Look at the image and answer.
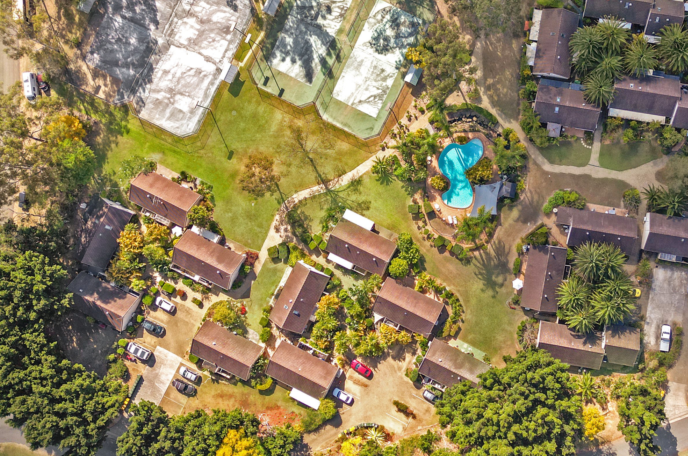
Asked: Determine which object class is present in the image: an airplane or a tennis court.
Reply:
tennis court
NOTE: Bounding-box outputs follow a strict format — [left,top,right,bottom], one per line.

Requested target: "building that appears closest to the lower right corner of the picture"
[602,325,640,367]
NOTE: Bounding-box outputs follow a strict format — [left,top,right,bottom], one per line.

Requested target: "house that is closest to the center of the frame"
[326,209,397,277]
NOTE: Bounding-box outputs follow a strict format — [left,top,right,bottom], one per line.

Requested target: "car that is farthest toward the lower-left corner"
[128,343,153,360]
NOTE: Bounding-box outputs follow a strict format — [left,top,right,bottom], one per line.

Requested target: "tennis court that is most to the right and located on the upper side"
[317,0,438,139]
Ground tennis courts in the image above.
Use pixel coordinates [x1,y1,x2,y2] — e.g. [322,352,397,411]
[317,0,438,139]
[83,0,181,102]
[247,0,367,107]
[135,0,254,137]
